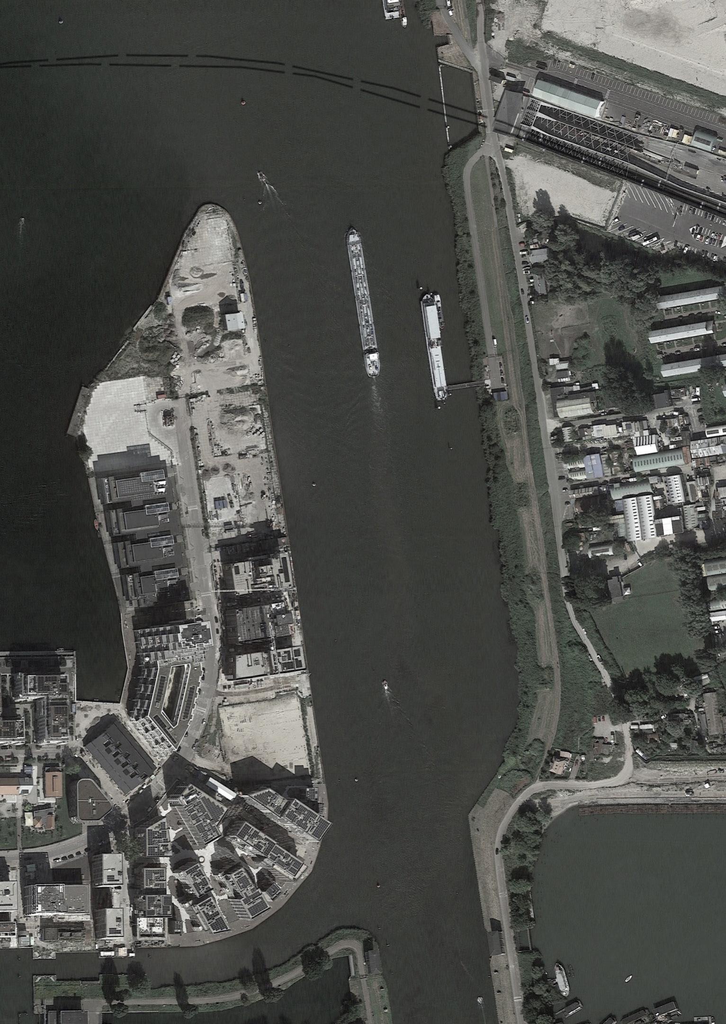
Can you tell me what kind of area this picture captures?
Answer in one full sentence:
The area seen from above is a port.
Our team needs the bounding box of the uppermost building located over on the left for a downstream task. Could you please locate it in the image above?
[222,312,245,331]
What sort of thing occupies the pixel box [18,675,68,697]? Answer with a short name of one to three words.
building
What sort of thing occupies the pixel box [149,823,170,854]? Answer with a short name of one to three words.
solar array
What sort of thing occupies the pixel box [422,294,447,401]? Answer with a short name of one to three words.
ship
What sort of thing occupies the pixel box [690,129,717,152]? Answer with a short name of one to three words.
shed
